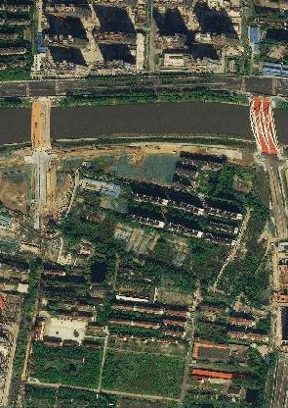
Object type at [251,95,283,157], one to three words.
bridge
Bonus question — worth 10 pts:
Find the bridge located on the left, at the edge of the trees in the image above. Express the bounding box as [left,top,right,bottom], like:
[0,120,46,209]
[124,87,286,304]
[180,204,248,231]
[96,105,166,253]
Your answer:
[31,96,51,152]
